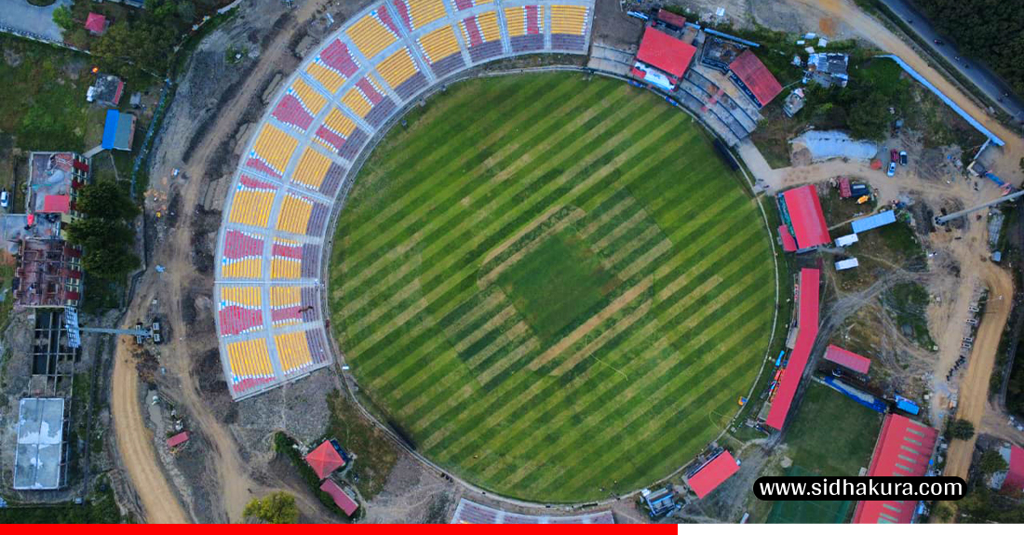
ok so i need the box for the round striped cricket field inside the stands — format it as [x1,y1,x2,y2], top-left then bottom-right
[326,68,779,507]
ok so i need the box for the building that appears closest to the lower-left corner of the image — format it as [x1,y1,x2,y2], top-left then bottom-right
[13,398,80,489]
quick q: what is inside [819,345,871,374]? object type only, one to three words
shed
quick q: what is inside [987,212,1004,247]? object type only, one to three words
greenhouse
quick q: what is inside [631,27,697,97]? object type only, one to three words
building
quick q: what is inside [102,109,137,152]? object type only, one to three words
house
